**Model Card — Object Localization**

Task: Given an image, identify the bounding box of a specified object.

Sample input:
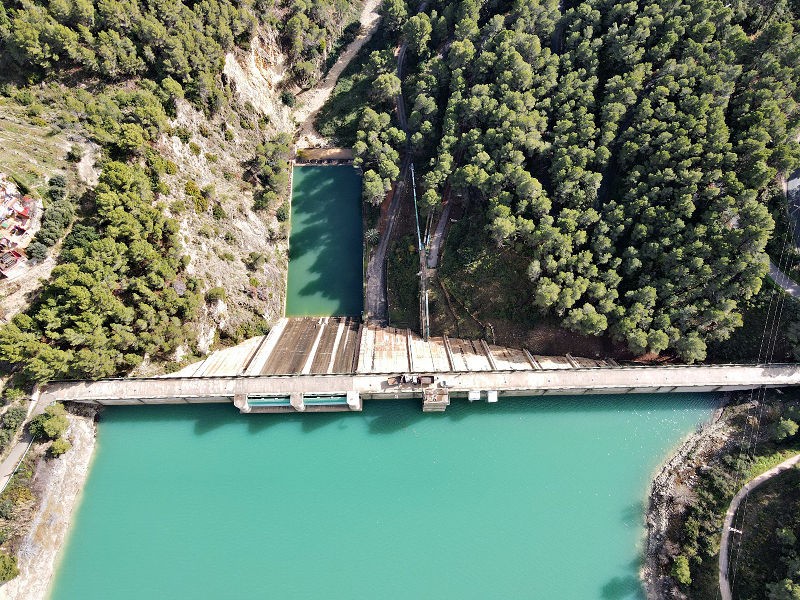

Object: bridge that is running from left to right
[234,374,352,396]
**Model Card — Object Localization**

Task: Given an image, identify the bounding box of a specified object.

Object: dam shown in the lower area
[46,312,800,415]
